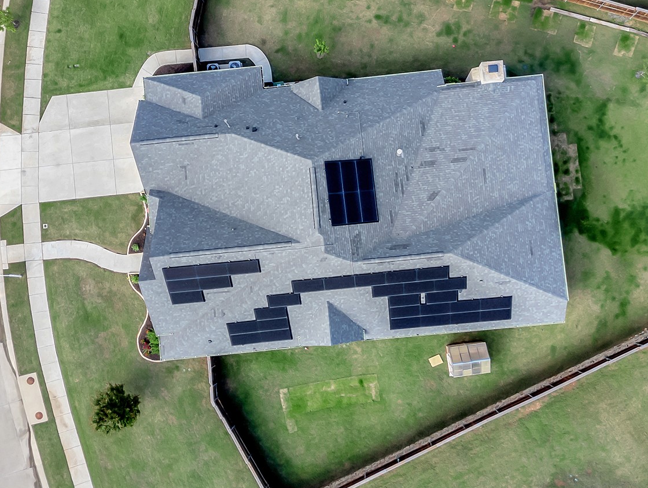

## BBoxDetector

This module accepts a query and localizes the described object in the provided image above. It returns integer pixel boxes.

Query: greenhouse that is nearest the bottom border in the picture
[446,339,491,377]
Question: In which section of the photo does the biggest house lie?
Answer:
center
